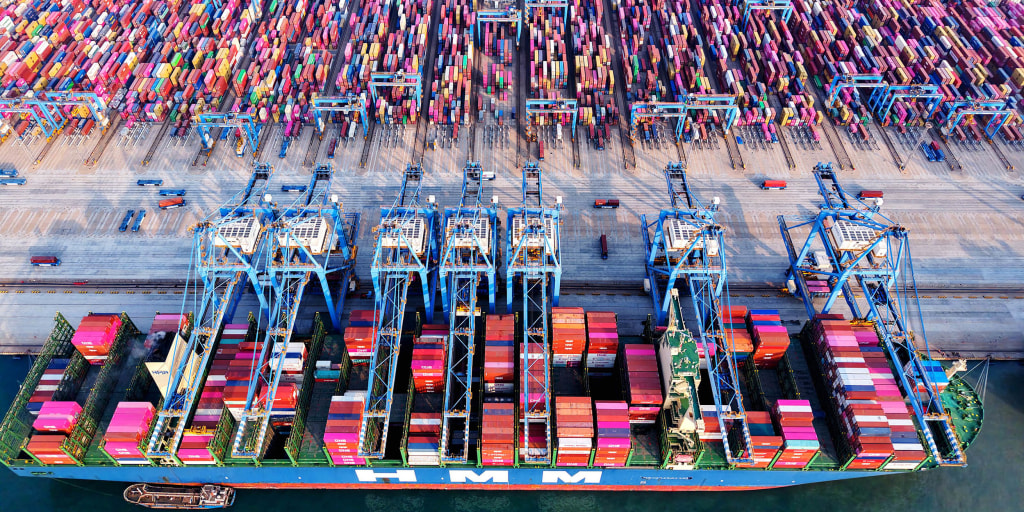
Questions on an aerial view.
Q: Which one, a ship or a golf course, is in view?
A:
ship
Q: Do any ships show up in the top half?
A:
No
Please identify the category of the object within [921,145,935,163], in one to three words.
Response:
vehicle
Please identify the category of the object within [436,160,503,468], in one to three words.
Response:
container crane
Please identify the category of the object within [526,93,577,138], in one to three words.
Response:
container crane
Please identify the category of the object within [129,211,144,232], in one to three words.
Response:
vehicle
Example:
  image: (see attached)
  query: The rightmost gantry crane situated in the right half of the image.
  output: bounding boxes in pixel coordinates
[935,93,1011,138]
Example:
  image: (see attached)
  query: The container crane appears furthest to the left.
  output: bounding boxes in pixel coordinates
[0,92,59,137]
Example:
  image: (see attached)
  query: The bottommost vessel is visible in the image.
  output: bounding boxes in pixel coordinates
[120,485,236,511]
